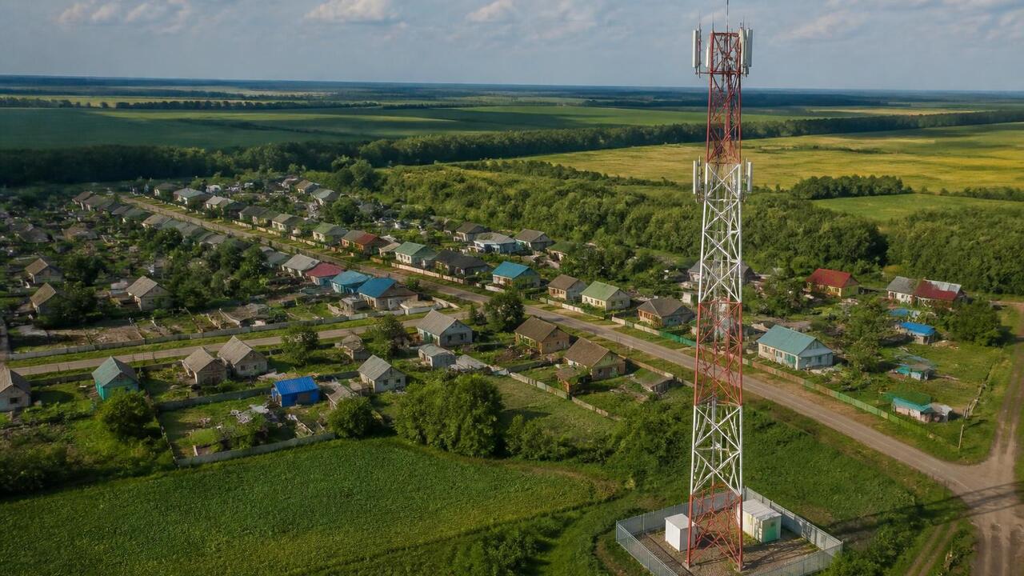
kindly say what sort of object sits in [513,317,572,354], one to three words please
house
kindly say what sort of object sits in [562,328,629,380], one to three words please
house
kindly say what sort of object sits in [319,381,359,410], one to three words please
shed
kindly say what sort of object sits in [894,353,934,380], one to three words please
shed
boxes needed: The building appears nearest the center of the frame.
[491,258,542,287]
